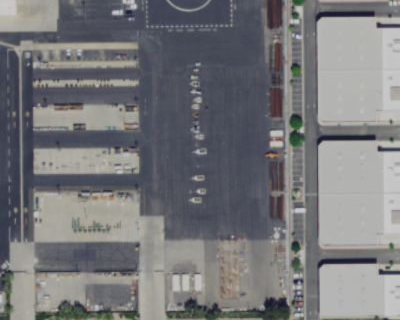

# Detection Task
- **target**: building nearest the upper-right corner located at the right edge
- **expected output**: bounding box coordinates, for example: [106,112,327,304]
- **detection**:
[316,17,400,121]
